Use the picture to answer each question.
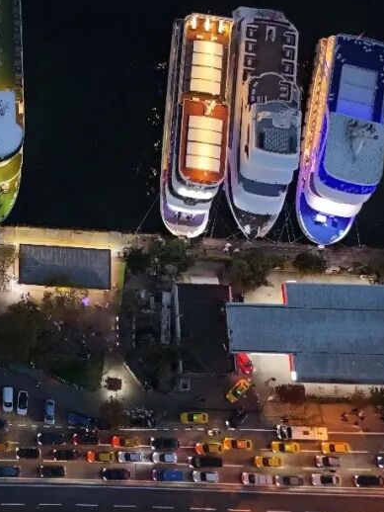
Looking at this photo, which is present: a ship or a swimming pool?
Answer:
ship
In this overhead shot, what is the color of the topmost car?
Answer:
red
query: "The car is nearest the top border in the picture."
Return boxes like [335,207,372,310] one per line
[235,352,255,376]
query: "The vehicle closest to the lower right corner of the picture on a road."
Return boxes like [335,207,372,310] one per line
[354,473,383,488]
